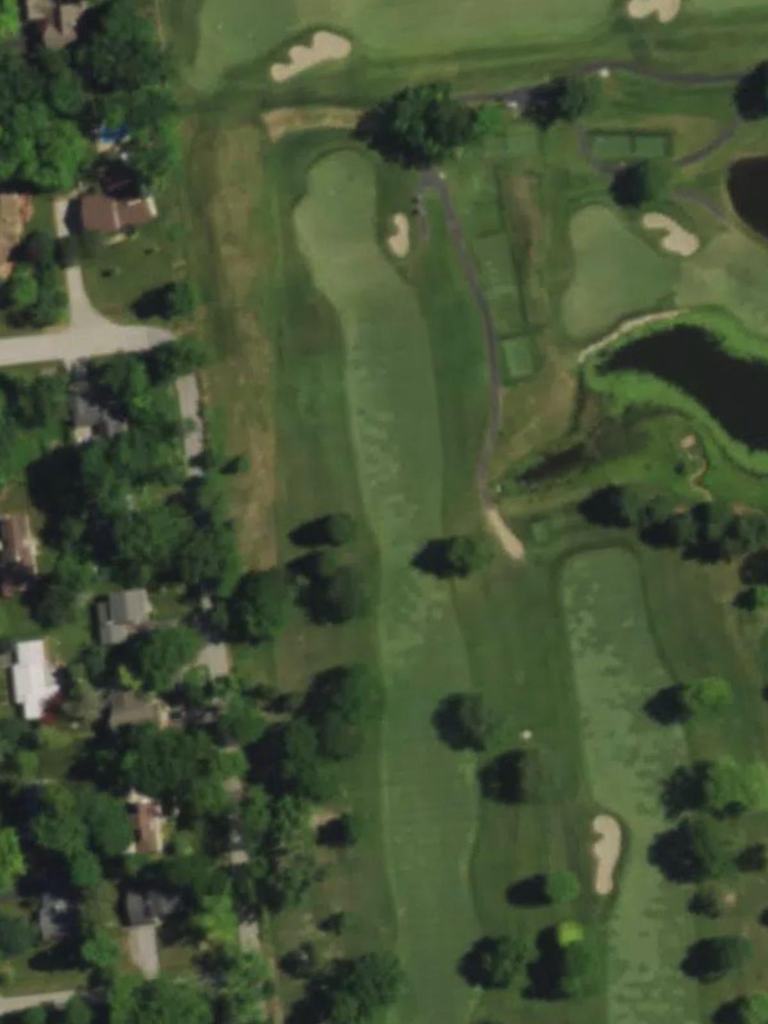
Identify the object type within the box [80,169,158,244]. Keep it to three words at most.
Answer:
house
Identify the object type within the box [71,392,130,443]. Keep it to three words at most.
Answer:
house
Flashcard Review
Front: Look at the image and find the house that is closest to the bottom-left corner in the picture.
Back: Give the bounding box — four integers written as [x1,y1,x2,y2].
[38,895,79,942]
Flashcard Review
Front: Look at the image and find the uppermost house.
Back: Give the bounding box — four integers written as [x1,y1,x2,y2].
[24,0,80,51]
